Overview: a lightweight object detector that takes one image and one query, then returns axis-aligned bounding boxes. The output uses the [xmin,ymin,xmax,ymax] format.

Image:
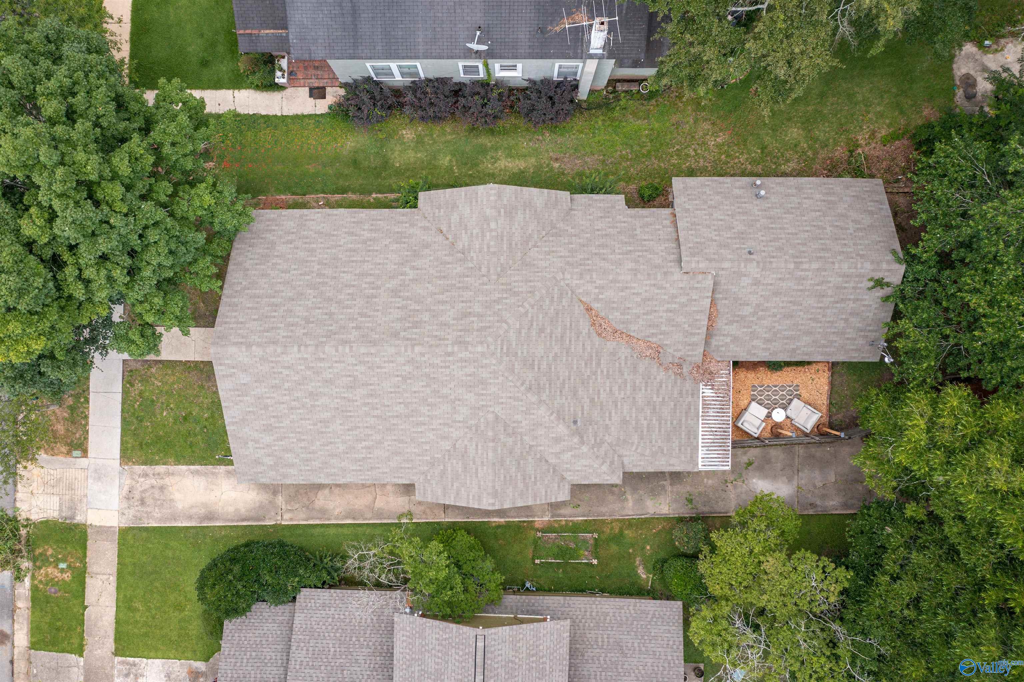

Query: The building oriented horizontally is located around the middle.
[211,176,905,510]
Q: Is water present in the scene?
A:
No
